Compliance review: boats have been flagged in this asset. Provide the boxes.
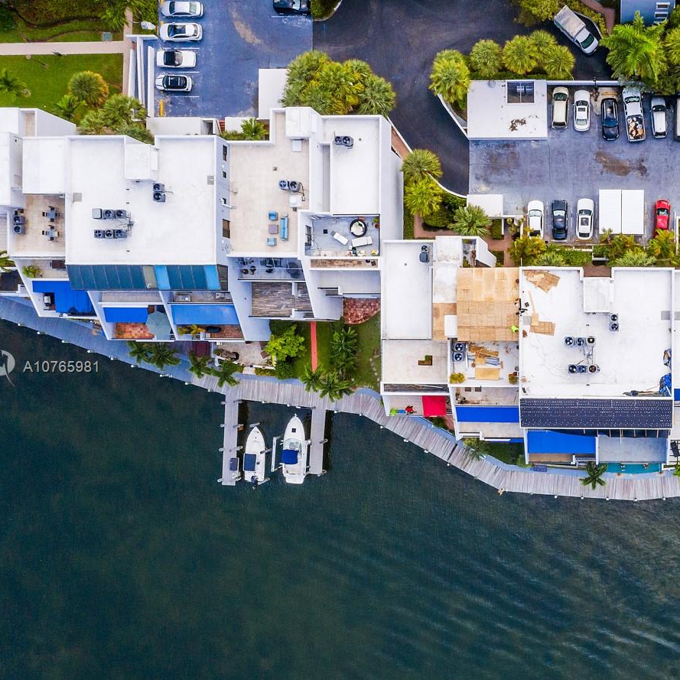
[281,415,310,488]
[245,425,267,492]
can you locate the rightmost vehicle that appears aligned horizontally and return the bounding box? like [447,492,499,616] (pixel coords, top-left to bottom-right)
[272,0,313,17]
